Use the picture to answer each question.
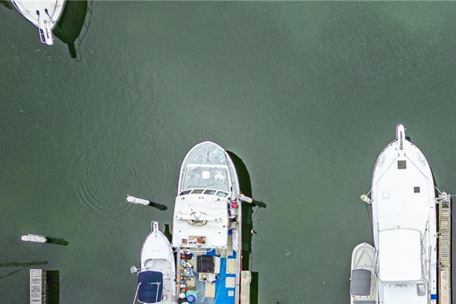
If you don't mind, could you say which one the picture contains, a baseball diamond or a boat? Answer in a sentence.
It is a boat that can be seen here.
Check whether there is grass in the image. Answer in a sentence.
No, there's no grass in this view.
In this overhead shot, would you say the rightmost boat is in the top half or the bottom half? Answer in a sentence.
The rightmost boat sits in the bottom half of the picture.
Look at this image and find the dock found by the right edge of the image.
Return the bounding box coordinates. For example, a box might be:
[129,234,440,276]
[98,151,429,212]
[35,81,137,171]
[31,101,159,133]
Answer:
[439,197,452,304]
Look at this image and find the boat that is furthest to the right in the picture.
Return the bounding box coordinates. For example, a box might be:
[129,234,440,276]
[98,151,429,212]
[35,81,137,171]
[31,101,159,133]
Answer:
[371,123,438,304]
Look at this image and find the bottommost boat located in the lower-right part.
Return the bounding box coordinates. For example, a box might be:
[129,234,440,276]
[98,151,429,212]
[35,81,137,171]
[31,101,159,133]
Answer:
[349,243,377,304]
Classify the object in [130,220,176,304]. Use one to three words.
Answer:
boat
